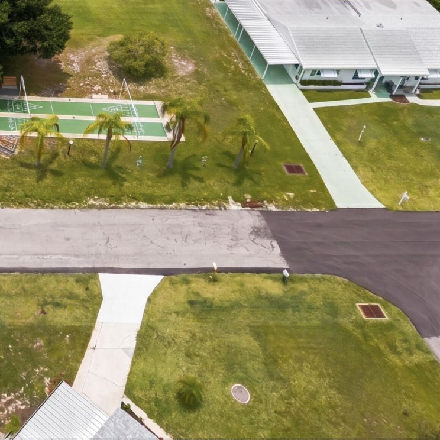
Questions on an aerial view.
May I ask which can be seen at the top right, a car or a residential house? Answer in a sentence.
What appears at the top right is a residential house.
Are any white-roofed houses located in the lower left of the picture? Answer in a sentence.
Yes, you'll find a white-roofed house in the lower left of the picture.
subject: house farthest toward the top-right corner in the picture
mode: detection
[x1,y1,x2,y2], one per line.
[215,0,440,94]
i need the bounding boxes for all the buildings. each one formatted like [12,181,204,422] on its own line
[11,379,155,440]
[215,0,440,94]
